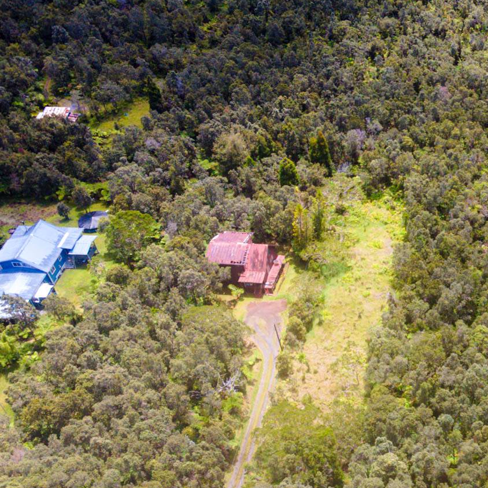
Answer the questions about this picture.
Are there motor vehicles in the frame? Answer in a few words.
No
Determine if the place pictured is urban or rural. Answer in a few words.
rural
